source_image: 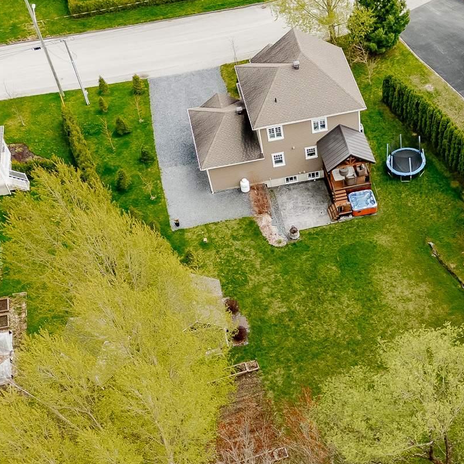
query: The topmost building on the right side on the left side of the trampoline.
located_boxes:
[189,23,368,195]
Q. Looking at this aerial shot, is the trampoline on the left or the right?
right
